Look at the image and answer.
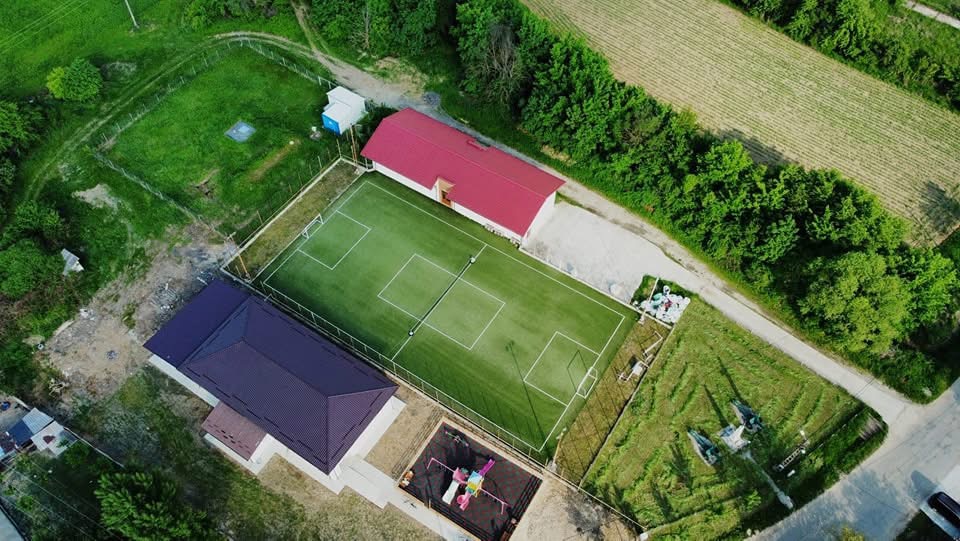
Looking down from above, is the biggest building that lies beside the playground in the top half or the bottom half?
bottom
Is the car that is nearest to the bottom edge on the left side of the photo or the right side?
right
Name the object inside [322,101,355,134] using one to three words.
building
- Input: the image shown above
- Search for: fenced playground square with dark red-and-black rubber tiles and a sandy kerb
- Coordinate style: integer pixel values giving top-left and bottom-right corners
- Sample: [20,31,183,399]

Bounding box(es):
[394,417,547,541]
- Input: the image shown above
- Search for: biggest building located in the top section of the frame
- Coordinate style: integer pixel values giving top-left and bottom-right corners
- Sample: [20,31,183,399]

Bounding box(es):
[361,109,564,248]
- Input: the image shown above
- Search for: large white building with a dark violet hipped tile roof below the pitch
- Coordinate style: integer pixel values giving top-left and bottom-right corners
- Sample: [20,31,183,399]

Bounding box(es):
[144,279,398,477]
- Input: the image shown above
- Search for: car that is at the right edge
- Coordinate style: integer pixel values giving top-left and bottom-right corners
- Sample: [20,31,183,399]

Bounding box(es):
[928,495,960,534]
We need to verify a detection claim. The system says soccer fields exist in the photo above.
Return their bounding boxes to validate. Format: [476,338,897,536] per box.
[248,170,643,469]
